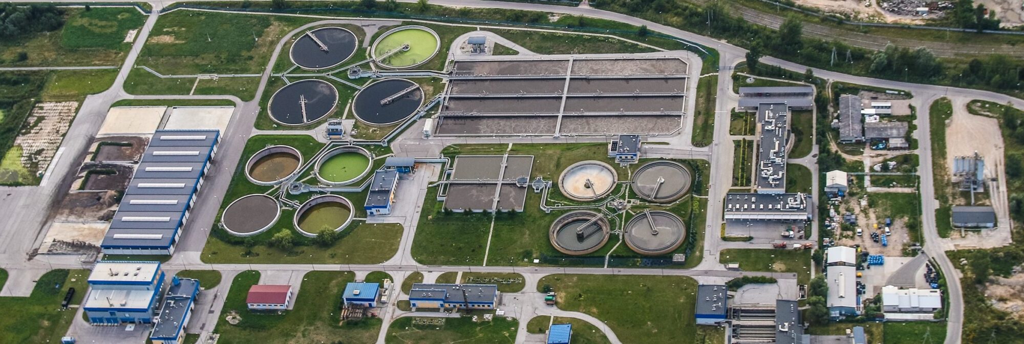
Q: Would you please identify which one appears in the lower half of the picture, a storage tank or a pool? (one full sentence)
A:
Looking in the lower half of the picture, you will find a storage tank.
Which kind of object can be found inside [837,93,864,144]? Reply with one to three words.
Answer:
barn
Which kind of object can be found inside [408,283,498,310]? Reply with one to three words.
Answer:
building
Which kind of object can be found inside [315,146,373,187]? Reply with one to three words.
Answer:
storage tank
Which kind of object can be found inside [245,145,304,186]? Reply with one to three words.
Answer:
storage tank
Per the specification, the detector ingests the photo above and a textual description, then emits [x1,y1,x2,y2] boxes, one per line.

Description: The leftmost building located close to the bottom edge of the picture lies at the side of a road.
[82,261,171,335]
